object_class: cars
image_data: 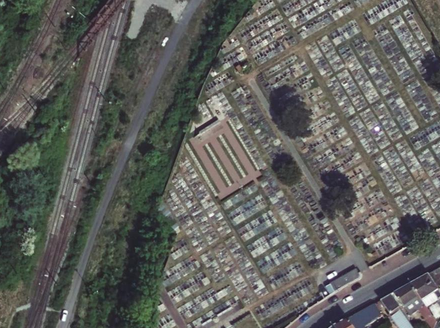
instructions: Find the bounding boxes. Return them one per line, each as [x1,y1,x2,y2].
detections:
[328,271,338,278]
[344,296,354,304]
[62,310,68,320]
[162,37,168,46]
[300,314,310,322]
[402,248,412,256]
[352,283,362,290]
